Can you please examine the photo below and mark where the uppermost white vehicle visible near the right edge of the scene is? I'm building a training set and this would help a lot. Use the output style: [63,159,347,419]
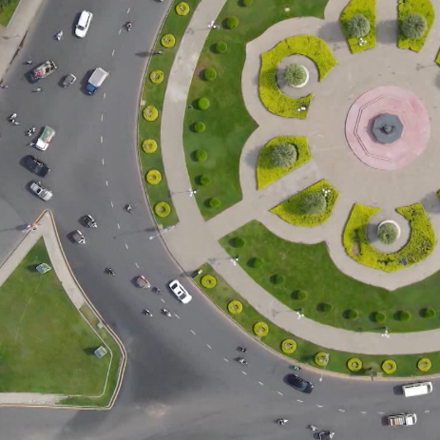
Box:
[402,380,432,398]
